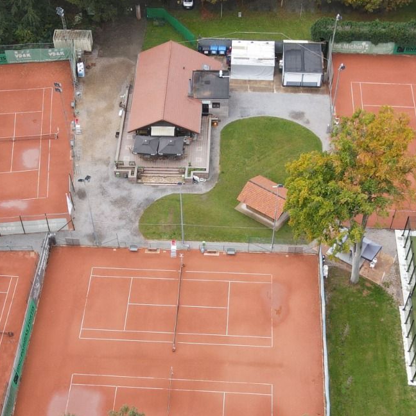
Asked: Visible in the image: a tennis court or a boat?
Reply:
tennis court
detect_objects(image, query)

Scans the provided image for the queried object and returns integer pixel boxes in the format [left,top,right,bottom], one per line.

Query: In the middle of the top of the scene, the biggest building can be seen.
[127,39,234,137]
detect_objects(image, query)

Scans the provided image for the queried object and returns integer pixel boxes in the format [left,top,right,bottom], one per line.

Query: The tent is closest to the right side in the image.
[361,238,390,274]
